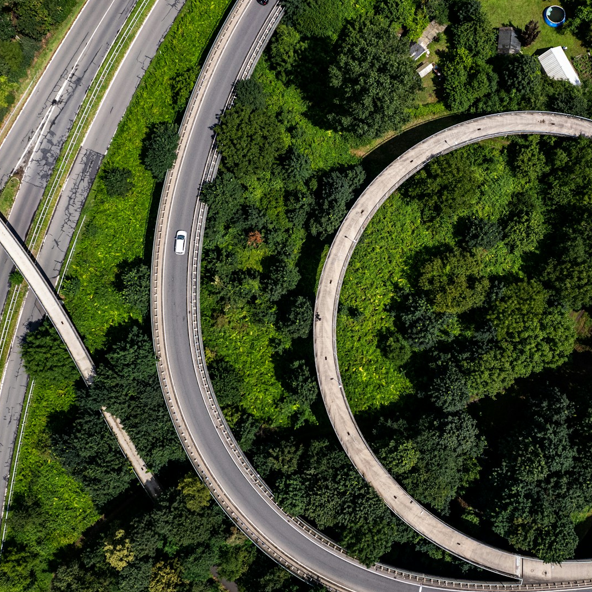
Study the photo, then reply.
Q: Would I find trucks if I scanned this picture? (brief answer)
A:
No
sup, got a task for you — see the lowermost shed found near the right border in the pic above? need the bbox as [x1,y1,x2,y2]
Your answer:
[536,46,579,91]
